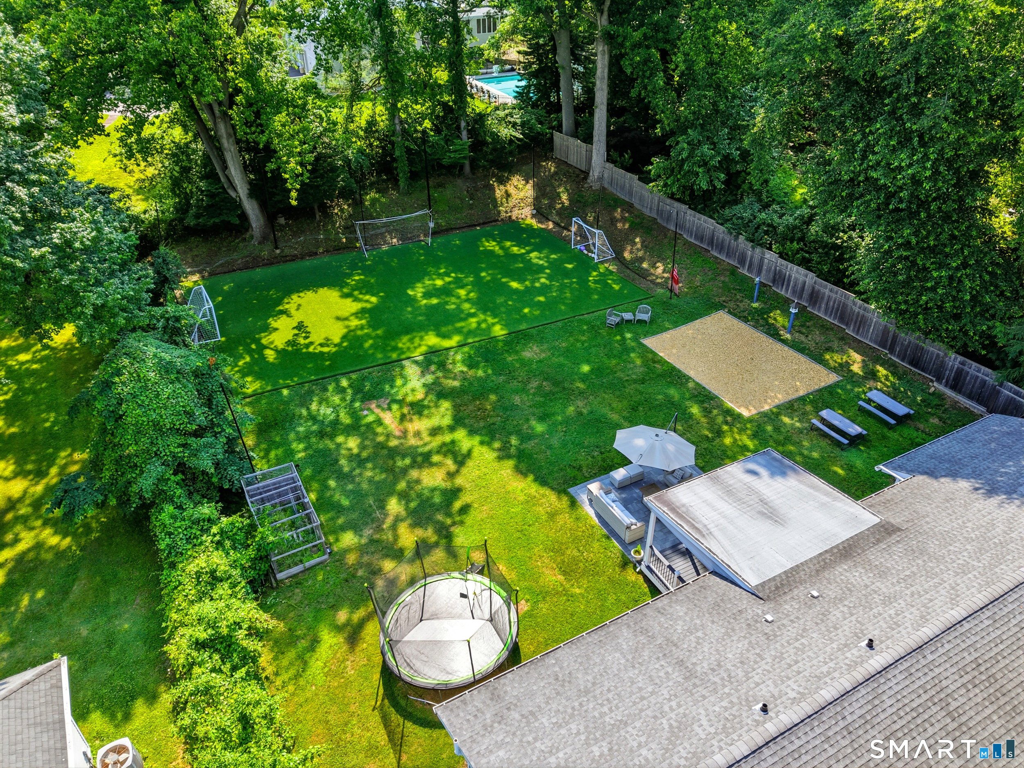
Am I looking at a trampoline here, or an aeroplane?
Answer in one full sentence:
Visible in the photo is a trampoline.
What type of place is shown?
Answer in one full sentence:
The area seen from above is a residential area.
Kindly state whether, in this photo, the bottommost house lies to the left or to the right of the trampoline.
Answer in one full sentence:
The trampoline has the bottommost house on its left side.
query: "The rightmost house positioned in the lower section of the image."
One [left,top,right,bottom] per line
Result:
[431,415,1024,768]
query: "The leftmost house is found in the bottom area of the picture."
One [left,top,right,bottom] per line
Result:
[0,646,101,768]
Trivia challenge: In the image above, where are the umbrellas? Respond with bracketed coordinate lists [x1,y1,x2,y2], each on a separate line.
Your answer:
[612,411,697,474]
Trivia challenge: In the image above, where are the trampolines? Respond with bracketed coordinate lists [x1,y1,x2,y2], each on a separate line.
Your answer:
[367,539,522,701]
